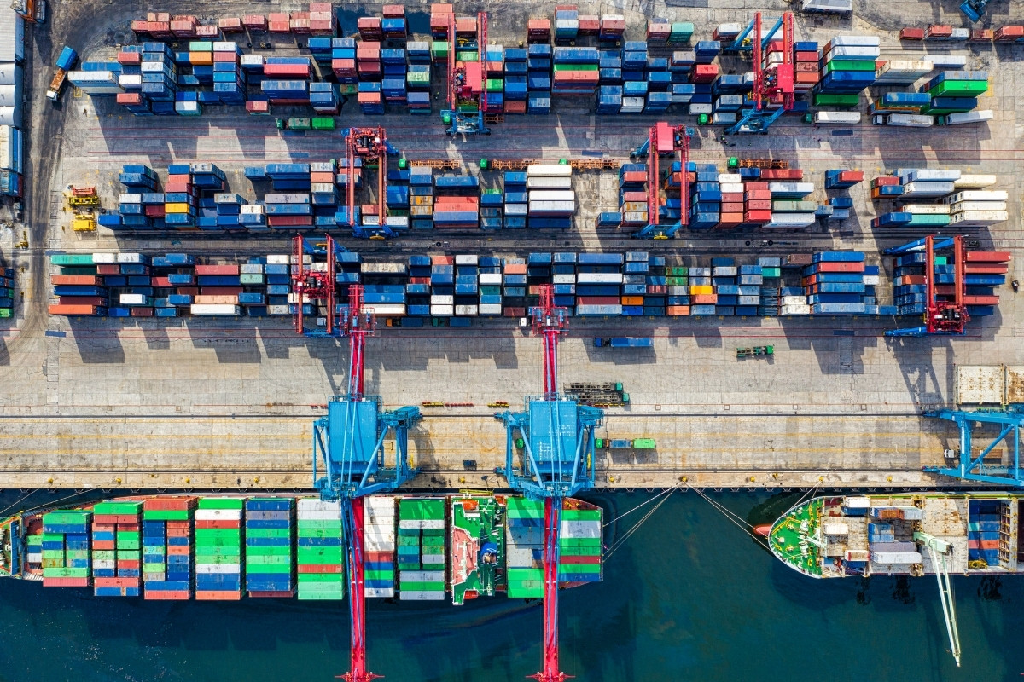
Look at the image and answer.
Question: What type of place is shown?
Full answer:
The picture captures a port.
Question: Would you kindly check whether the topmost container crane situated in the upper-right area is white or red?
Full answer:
The topmost container crane situated in the upper-right area looks red in the image.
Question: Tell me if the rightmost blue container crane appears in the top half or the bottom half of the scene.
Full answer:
The bottom half of the photo is where the rightmost blue container crane is.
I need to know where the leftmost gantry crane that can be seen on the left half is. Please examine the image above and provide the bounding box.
[292,235,357,336]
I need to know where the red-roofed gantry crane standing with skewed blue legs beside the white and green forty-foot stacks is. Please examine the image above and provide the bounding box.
[725,11,795,137]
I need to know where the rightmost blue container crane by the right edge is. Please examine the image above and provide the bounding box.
[923,405,1024,493]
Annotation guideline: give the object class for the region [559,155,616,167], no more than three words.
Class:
vehicle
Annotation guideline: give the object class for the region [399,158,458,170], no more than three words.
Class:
vehicle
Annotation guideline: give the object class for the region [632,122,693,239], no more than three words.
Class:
container crane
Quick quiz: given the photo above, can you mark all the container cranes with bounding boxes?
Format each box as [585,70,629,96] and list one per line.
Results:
[495,285,602,682]
[445,11,494,137]
[725,11,795,137]
[923,405,1024,493]
[879,235,965,336]
[307,285,432,682]
[344,126,404,239]
[292,235,357,336]
[632,122,693,239]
